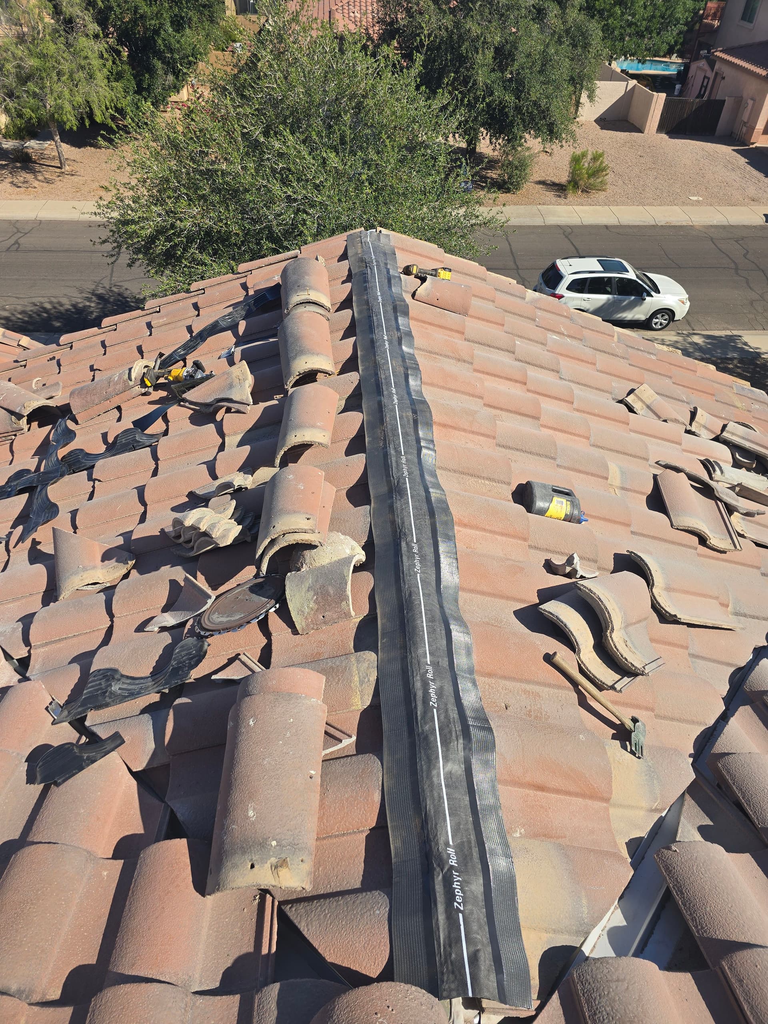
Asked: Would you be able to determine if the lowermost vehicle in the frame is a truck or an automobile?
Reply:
automobile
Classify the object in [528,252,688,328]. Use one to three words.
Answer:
car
